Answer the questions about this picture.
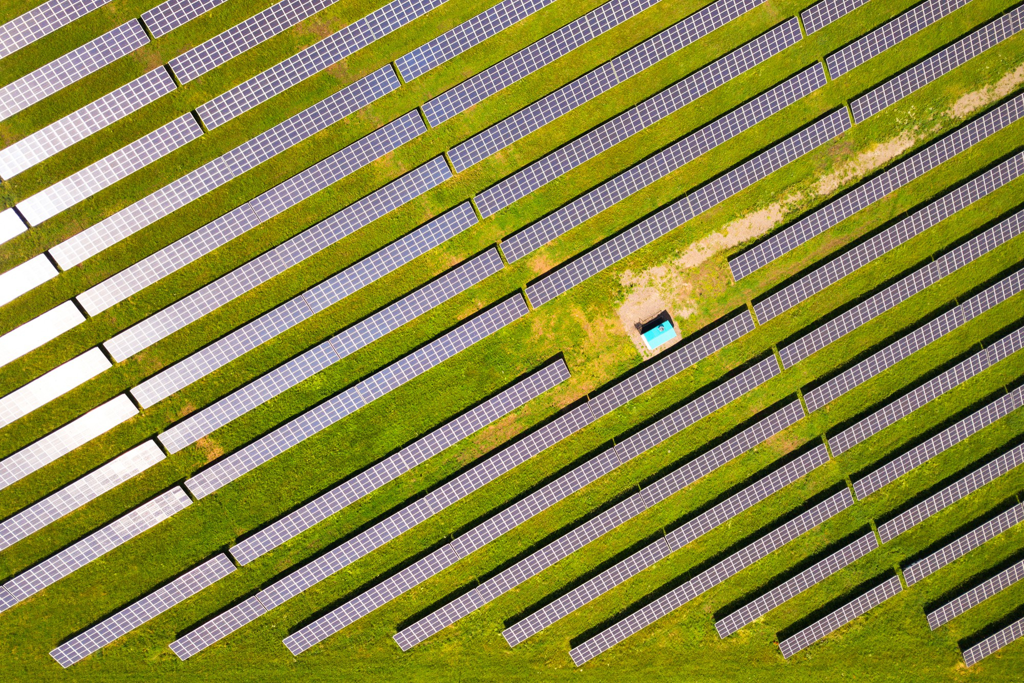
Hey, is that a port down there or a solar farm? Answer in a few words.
solar farm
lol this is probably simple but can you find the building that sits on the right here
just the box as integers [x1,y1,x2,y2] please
[640,321,676,349]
